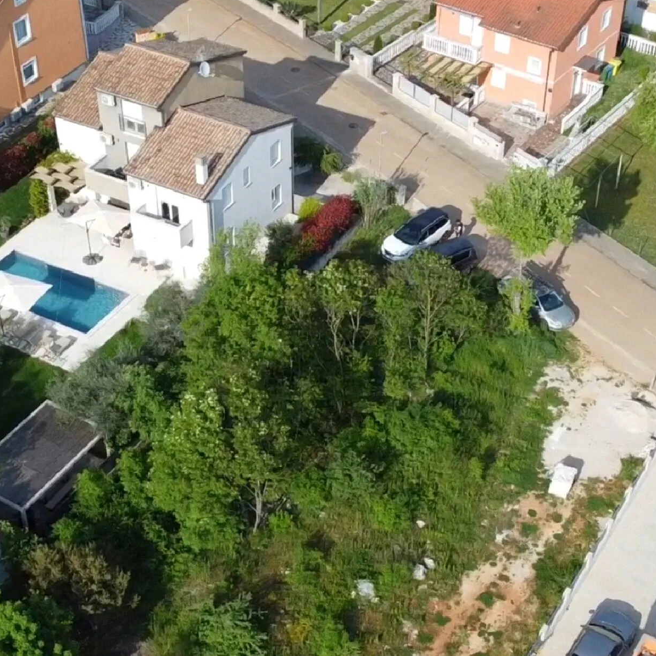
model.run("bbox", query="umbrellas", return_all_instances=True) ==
[67,199,131,263]
[0,268,55,313]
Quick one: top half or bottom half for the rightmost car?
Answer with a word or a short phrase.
bottom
